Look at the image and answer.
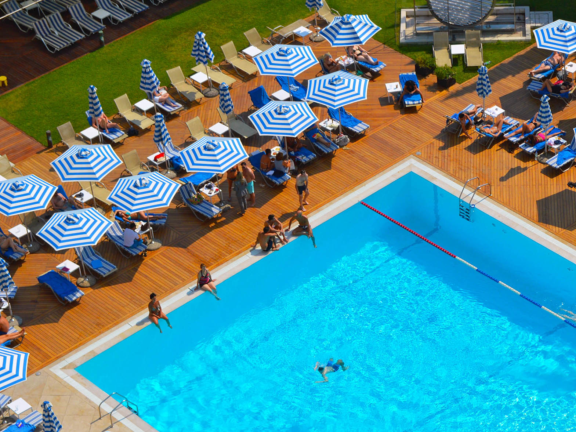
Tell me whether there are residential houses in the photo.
No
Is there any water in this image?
Yes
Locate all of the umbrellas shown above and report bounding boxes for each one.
[178,139,248,210]
[155,115,178,179]
[143,59,166,122]
[536,99,555,163]
[474,65,493,126]
[87,85,111,147]
[107,169,179,246]
[248,99,318,170]
[41,203,111,281]
[0,170,57,248]
[320,8,382,80]
[0,350,35,431]
[218,81,240,143]
[0,259,23,327]
[253,46,318,103]
[306,0,323,40]
[306,72,368,142]
[534,18,576,85]
[45,400,66,432]
[51,145,122,210]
